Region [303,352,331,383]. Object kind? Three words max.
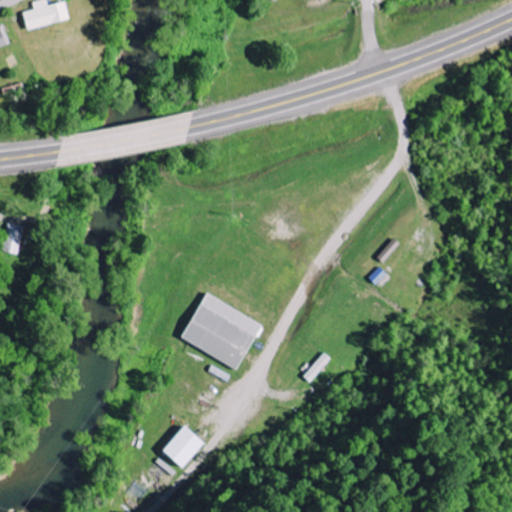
house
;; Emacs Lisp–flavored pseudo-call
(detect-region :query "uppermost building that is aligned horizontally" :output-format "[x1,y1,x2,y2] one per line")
[22,1,70,30]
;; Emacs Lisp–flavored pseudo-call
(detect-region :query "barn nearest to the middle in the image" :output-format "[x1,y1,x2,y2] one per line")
[180,292,265,370]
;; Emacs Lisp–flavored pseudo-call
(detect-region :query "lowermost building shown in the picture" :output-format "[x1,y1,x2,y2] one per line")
[162,425,205,469]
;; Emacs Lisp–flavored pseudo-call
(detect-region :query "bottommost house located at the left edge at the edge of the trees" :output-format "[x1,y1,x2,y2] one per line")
[2,224,20,255]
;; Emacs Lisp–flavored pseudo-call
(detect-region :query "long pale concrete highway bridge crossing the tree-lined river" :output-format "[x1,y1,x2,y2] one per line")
[56,108,194,170]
